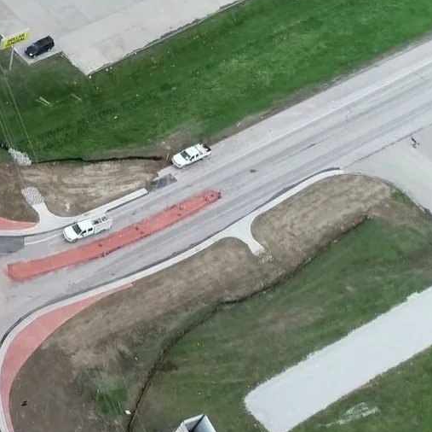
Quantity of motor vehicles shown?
three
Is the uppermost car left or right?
left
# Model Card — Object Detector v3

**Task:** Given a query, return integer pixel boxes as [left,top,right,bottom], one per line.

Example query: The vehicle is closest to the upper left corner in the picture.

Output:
[22,33,56,59]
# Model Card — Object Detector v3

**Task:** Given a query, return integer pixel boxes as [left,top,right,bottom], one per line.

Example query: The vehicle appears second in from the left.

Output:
[63,211,115,239]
